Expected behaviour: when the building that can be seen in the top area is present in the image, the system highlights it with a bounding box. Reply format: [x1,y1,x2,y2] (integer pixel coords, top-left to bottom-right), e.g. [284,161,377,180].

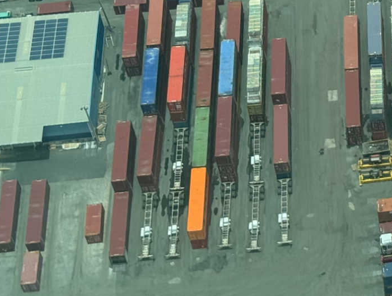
[0,11,105,164]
